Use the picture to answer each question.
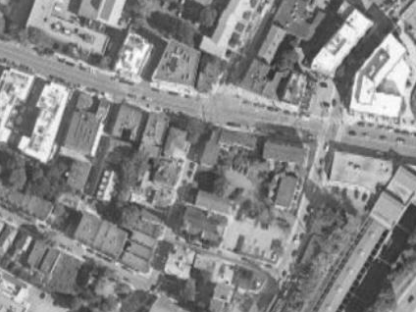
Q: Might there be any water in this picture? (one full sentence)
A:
No, the scene doesn't show any water.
